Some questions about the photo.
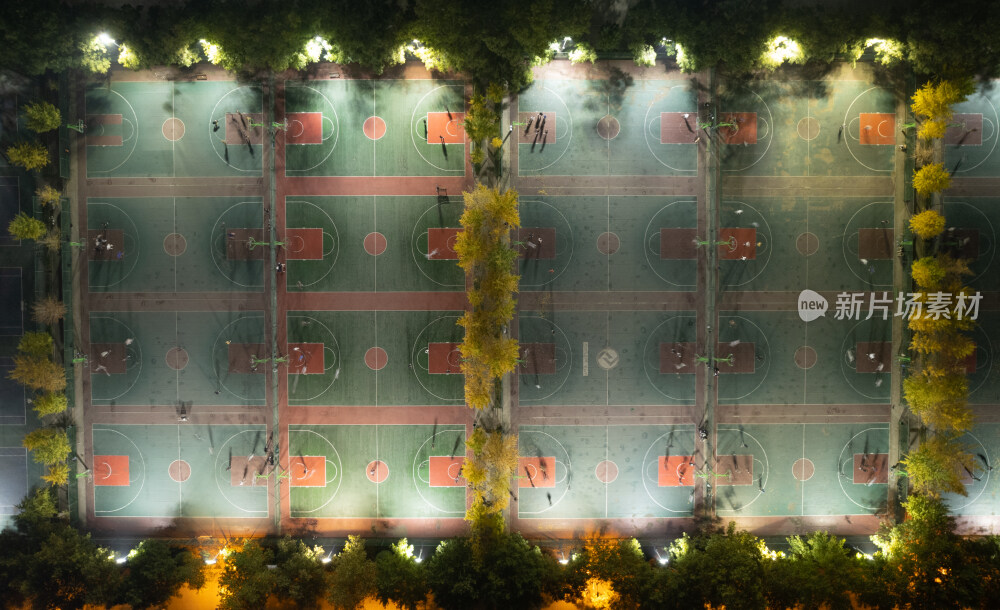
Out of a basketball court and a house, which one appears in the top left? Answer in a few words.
basketball court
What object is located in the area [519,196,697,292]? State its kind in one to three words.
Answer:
basketball court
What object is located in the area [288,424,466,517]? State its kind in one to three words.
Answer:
basketball court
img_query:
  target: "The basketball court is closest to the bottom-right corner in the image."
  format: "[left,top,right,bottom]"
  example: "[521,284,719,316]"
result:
[938,425,1000,518]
